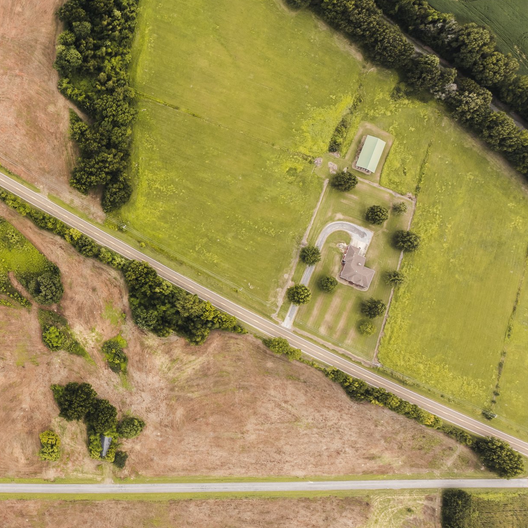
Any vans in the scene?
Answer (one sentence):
No, there isn't any van down there.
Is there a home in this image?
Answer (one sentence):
Yes, a home is visible in the scene.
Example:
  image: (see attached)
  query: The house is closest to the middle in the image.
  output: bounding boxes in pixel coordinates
[338,245,376,288]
